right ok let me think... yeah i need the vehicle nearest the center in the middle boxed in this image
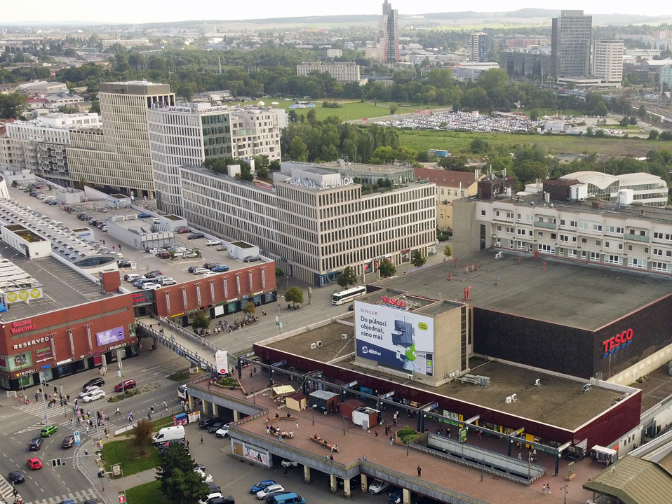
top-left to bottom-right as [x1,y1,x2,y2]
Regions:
[331,286,365,305]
